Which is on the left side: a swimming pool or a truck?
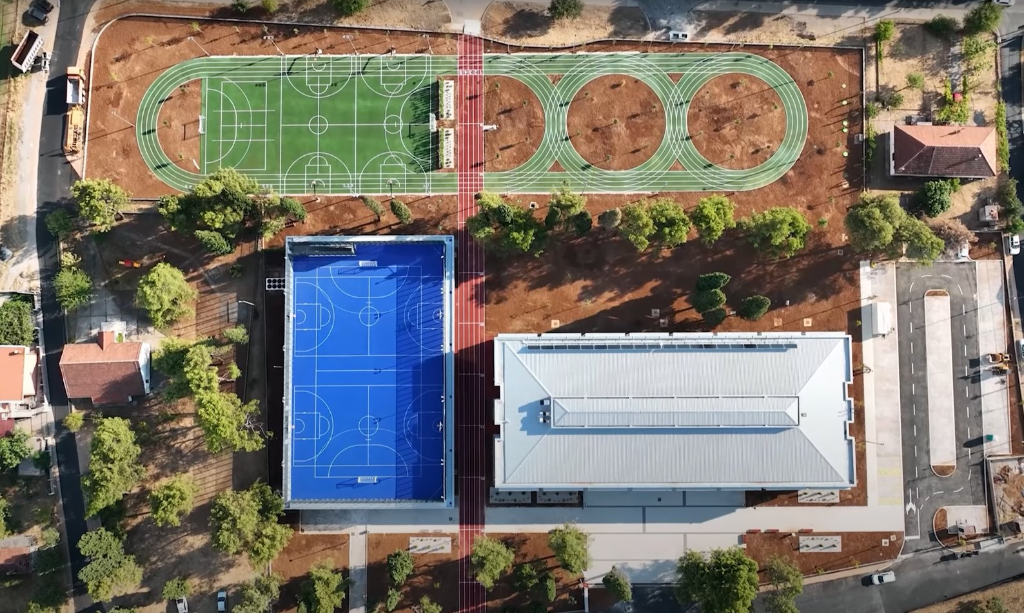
truck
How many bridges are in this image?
0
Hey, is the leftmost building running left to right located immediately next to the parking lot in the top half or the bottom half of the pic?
bottom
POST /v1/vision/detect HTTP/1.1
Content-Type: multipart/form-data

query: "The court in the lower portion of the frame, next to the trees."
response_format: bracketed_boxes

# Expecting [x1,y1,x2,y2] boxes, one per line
[293,243,446,501]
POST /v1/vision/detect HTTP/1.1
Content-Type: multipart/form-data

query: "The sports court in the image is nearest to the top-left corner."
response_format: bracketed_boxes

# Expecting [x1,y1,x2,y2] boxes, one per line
[201,54,437,193]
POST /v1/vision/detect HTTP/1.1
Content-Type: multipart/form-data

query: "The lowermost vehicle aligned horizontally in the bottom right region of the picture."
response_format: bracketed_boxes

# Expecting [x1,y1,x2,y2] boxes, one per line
[868,571,897,585]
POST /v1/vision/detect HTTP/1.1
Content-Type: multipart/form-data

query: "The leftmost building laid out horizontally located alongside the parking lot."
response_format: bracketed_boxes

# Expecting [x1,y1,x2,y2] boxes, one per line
[493,331,857,489]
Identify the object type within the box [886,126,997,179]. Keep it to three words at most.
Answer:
house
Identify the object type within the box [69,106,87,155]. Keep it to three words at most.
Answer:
vehicle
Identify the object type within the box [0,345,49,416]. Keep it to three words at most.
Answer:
building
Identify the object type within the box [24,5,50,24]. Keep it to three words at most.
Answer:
car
